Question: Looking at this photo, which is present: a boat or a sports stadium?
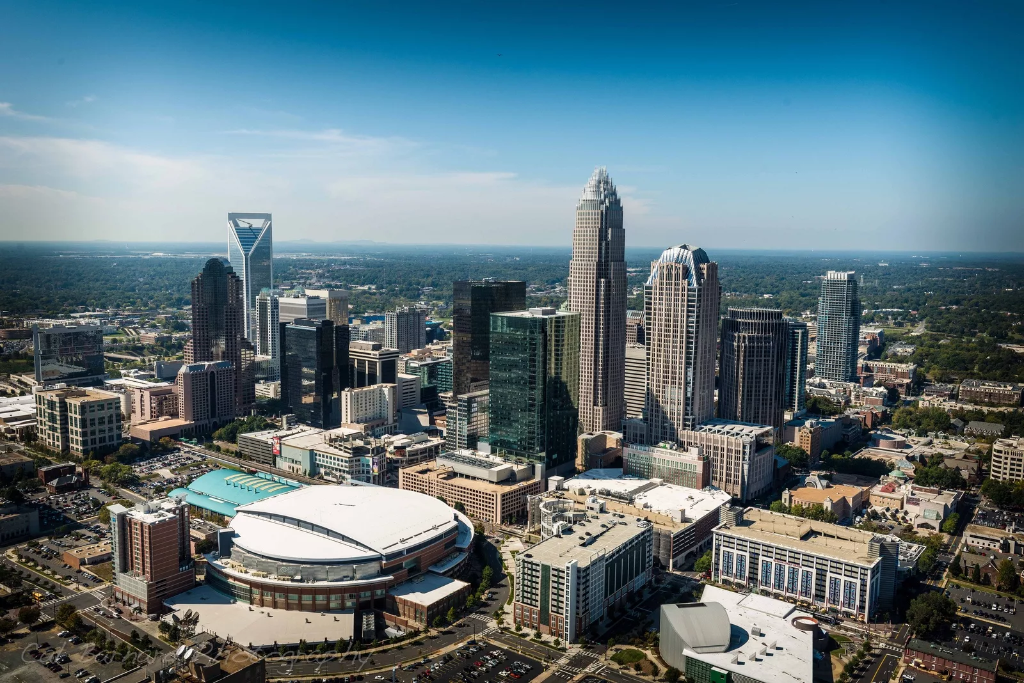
sports stadium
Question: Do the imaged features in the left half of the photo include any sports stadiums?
Yes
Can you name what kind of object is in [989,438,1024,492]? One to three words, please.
building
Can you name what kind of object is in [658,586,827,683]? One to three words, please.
building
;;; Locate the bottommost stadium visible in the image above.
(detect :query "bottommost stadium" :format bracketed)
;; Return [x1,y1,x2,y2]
[200,486,476,622]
